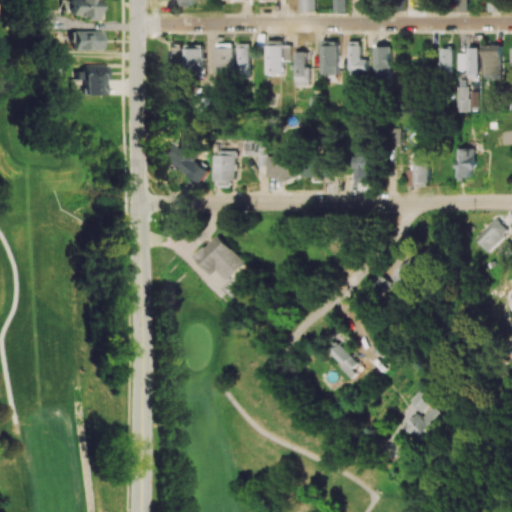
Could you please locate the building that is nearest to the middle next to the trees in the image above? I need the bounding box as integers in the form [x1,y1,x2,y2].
[190,237,243,282]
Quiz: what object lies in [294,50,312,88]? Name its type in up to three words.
house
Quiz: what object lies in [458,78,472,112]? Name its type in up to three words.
shed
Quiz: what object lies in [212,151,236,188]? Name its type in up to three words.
house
